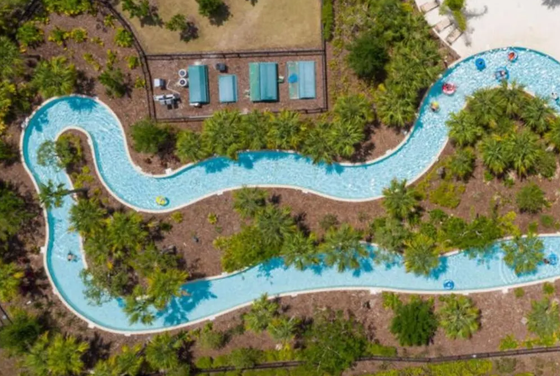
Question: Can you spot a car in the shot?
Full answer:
No, the scene contains no car.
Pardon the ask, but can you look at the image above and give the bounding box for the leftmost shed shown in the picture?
[188,65,215,103]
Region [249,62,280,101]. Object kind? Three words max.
shed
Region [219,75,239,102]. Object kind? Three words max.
shed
